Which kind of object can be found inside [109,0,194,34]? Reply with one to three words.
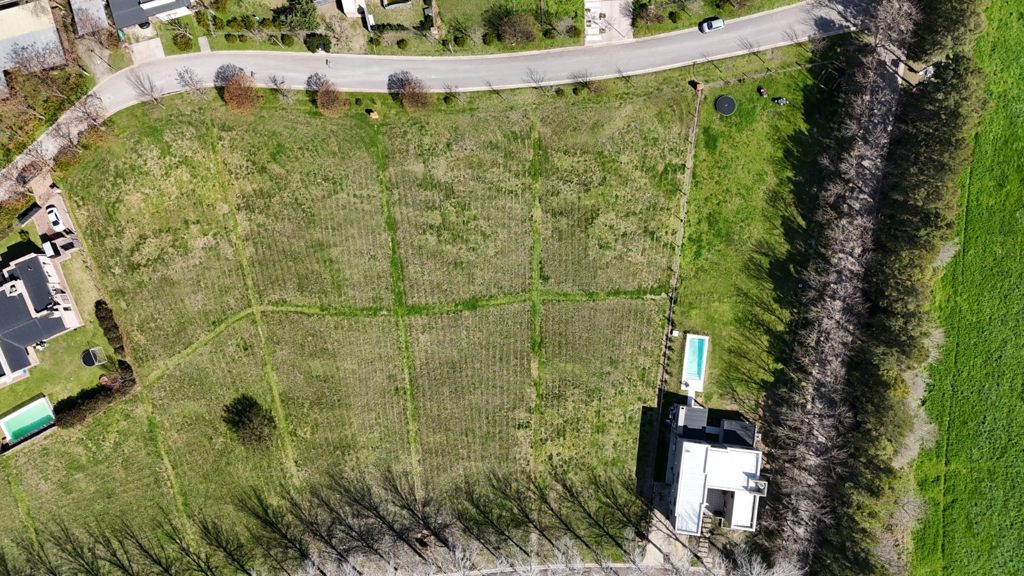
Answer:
house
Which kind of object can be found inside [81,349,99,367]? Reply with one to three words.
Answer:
trampoline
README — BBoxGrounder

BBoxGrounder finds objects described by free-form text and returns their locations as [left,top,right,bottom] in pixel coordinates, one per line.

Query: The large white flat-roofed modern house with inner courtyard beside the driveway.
[666,403,767,536]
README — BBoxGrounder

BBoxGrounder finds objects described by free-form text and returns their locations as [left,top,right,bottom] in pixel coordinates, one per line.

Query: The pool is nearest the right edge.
[681,334,709,392]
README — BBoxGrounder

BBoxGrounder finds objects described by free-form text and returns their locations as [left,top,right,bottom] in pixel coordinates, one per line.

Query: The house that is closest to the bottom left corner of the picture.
[0,253,81,383]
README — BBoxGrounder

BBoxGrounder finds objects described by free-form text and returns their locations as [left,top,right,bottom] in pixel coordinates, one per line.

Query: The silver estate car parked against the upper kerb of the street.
[698,17,725,35]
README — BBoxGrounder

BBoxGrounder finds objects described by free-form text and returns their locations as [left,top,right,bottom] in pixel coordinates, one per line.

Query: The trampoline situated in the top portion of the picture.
[714,94,737,117]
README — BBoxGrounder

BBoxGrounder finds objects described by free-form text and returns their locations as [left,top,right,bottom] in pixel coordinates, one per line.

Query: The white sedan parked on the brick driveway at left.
[45,205,67,233]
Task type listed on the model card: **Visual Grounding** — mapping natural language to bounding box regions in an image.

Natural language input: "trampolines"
[81,349,99,367]
[714,94,737,117]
